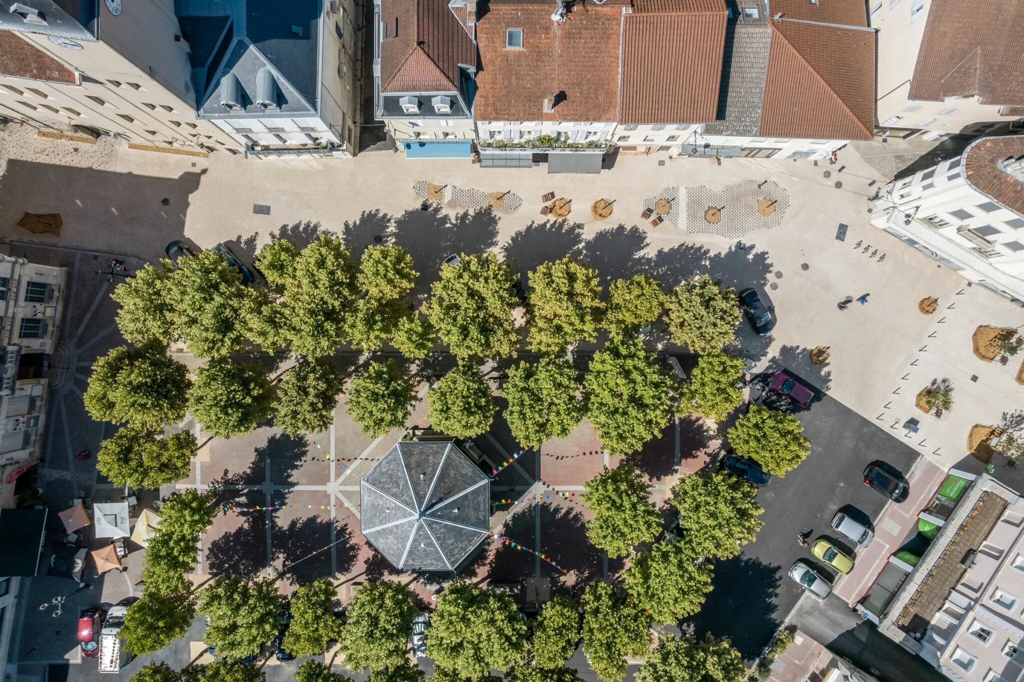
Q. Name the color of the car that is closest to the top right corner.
black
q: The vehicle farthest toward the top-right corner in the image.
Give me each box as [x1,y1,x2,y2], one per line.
[738,282,778,340]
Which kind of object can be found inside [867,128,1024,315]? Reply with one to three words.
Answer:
building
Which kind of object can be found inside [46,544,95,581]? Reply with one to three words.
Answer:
umbrella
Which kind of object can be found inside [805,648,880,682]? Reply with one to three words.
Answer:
building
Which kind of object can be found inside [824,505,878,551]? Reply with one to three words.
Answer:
car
